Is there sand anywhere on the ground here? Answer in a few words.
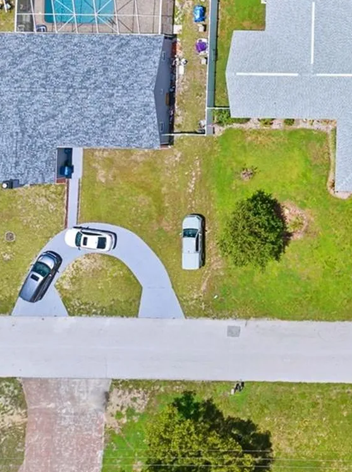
No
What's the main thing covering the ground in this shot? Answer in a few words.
grass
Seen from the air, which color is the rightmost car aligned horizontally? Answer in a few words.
white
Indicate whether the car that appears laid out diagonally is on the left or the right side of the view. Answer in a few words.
left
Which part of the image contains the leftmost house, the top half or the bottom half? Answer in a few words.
top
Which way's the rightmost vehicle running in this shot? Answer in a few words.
up and down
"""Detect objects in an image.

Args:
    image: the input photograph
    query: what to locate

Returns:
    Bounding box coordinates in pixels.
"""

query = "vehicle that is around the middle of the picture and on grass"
[179,213,207,269]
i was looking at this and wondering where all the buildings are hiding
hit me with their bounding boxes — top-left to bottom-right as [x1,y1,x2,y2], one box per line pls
[225,0,352,192]
[0,32,174,186]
